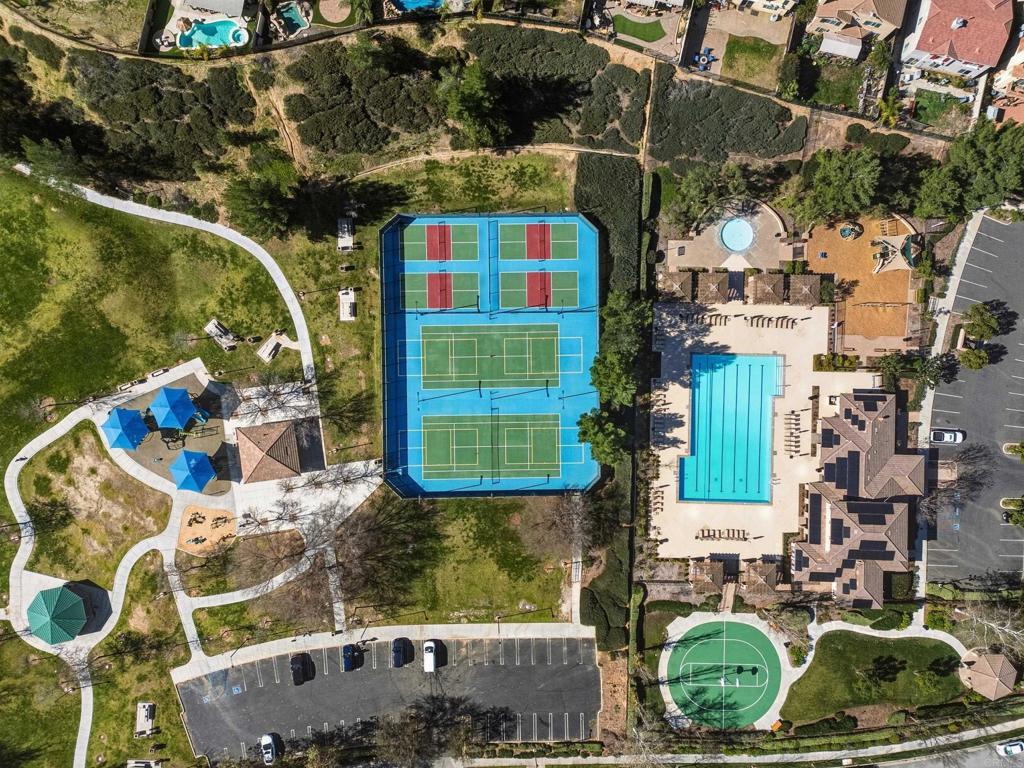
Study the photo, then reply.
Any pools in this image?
Yes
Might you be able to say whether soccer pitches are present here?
No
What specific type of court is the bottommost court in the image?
basketball court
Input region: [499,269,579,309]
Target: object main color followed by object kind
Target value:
green sports court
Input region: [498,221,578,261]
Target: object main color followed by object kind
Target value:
green sports court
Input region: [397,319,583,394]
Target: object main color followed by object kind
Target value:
green tennis court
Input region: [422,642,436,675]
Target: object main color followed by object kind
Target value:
white vehicle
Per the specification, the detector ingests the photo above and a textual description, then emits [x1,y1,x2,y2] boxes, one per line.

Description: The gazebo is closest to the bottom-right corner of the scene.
[961,651,1016,702]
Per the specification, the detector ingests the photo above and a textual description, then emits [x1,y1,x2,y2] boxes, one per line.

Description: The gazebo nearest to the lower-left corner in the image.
[27,584,93,644]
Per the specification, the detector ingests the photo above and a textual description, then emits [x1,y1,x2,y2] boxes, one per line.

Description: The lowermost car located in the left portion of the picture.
[258,736,275,767]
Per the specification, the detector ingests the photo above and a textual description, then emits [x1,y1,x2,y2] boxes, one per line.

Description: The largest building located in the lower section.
[791,393,925,610]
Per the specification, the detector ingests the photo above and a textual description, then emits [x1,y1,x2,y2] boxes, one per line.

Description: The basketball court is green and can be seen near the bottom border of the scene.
[667,619,780,732]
